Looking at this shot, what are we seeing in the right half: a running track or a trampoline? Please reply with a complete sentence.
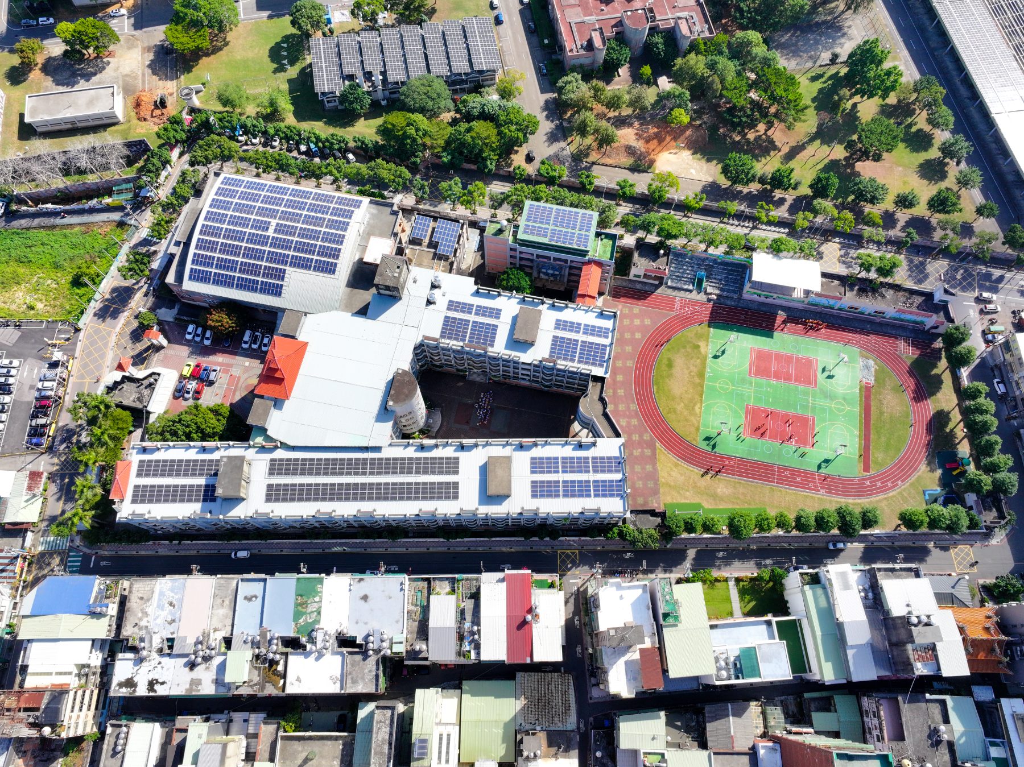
The one visible in the right half is a running track.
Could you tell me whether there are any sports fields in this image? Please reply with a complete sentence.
Yes, I can see a sports field in this picture.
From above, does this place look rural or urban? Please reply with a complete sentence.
The area shown here is urban.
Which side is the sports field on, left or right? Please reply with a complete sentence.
The sports field appears in the right half of the scene.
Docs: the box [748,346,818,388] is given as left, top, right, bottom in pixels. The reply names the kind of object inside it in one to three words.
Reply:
sports court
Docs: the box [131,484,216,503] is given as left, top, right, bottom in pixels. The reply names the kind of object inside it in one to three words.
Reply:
solar array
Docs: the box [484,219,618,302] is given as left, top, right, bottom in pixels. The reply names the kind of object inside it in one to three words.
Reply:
building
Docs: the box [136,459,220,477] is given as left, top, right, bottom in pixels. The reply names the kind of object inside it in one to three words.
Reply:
solar array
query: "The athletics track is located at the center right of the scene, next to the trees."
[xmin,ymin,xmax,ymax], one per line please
[633,304,933,498]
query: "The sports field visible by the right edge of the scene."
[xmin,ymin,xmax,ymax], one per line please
[654,301,987,536]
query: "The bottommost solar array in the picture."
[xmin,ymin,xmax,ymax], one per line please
[414,739,428,757]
